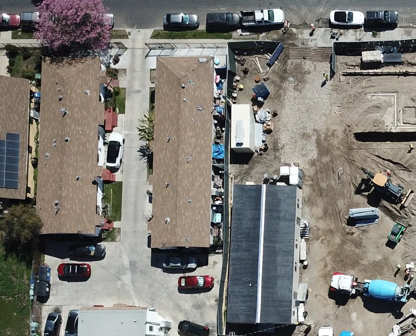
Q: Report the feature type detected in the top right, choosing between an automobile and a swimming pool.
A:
automobile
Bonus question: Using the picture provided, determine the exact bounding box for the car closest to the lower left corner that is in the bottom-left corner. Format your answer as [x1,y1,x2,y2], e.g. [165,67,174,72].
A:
[44,312,64,336]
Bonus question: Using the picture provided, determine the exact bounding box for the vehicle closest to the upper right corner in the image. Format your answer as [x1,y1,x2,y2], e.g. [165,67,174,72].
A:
[366,10,399,28]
